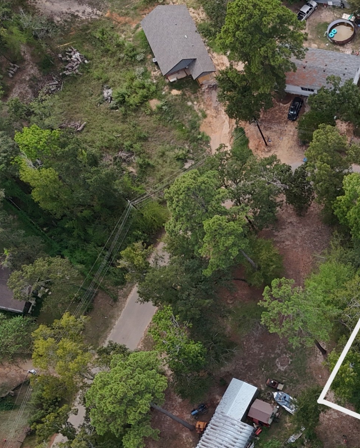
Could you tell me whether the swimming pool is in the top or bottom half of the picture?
top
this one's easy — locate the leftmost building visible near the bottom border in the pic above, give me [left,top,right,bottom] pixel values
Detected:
[194,378,261,448]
